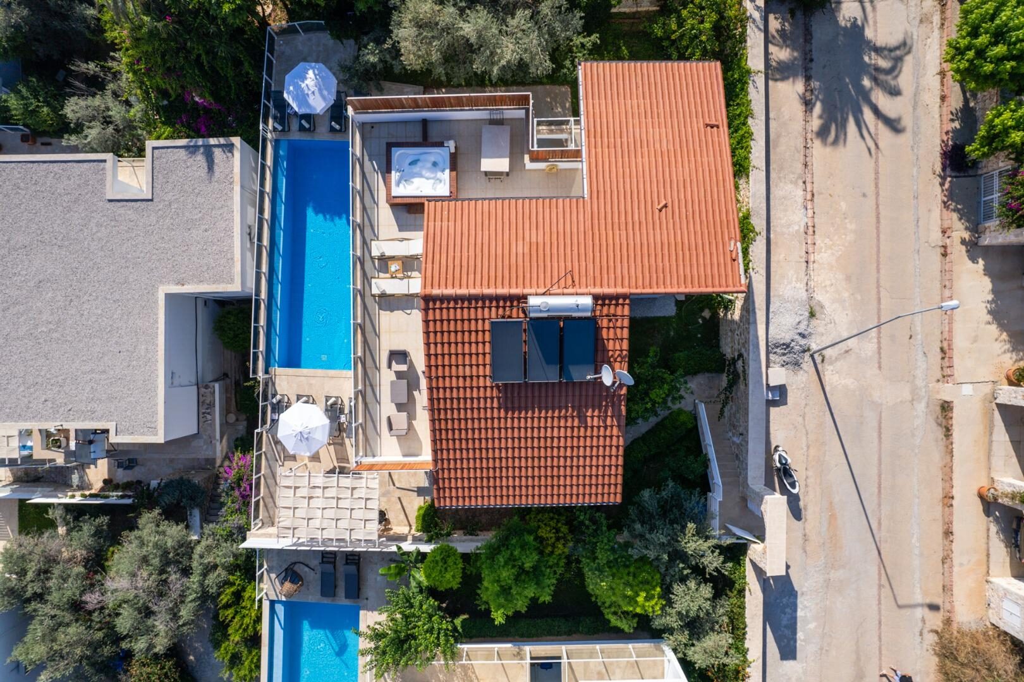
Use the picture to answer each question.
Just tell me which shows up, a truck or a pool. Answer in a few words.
pool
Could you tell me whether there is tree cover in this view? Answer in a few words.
Yes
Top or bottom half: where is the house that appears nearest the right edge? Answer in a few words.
bottom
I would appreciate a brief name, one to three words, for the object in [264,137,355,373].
swimming pool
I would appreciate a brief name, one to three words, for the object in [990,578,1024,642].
house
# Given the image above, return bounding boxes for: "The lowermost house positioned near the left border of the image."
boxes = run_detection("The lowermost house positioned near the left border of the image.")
[0,137,269,442]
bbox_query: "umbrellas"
[286,64,339,117]
[278,401,333,456]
